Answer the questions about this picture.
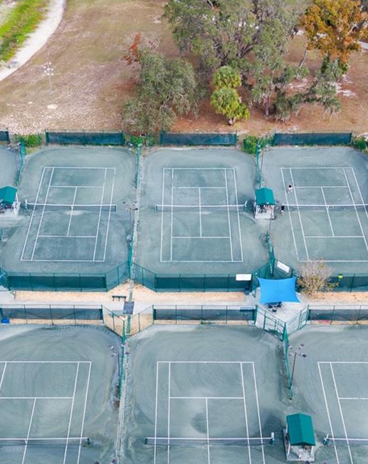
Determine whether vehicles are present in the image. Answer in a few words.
No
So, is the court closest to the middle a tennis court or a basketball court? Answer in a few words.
tennis court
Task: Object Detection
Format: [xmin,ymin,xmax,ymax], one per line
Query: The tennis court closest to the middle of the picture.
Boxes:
[136,146,270,289]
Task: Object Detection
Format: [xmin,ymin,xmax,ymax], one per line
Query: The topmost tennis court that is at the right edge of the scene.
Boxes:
[255,147,368,286]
